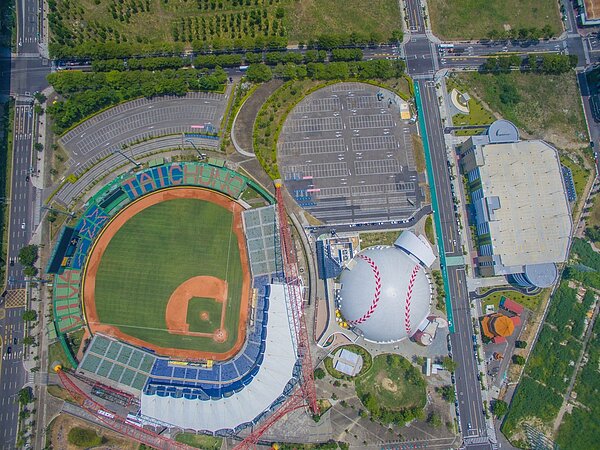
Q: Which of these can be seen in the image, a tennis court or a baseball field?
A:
baseball field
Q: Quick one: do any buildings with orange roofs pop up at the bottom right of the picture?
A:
Yes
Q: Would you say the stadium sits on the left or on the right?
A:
left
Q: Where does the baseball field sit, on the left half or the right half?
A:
left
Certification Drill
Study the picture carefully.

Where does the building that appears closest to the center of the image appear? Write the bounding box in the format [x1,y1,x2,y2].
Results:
[316,238,359,278]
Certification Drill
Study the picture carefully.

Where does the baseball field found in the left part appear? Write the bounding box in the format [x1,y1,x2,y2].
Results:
[73,187,254,361]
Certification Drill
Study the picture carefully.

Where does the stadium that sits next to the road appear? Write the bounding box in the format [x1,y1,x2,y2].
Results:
[49,161,321,450]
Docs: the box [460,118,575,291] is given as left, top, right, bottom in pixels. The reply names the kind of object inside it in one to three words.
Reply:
building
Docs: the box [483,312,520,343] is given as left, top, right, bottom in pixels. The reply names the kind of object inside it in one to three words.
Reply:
building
